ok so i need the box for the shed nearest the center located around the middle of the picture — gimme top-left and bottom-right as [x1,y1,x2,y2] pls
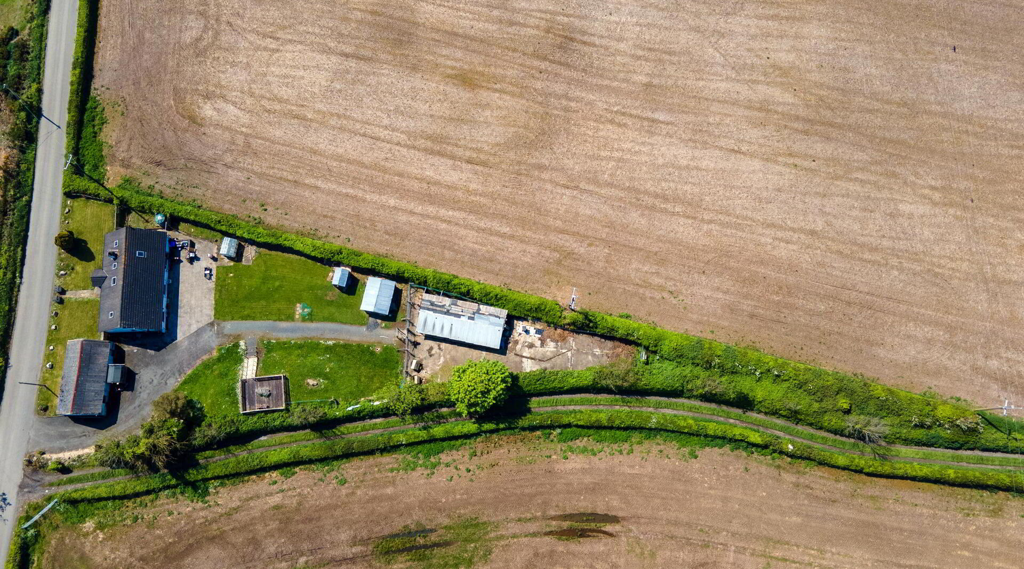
[415,294,508,349]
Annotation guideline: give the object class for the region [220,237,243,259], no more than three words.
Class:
greenhouse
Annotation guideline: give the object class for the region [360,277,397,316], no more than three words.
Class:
shed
